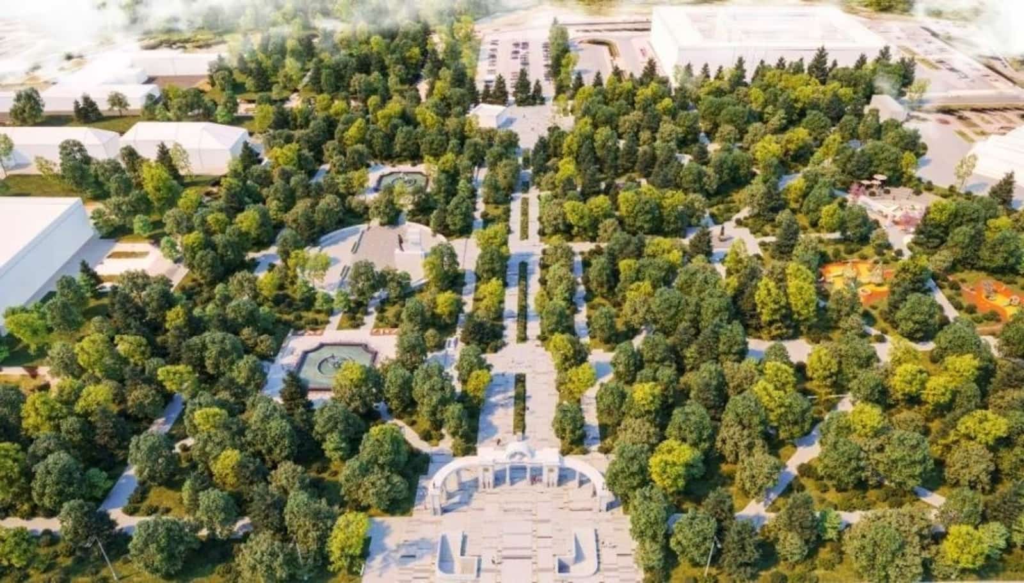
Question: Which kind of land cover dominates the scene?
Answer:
trees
